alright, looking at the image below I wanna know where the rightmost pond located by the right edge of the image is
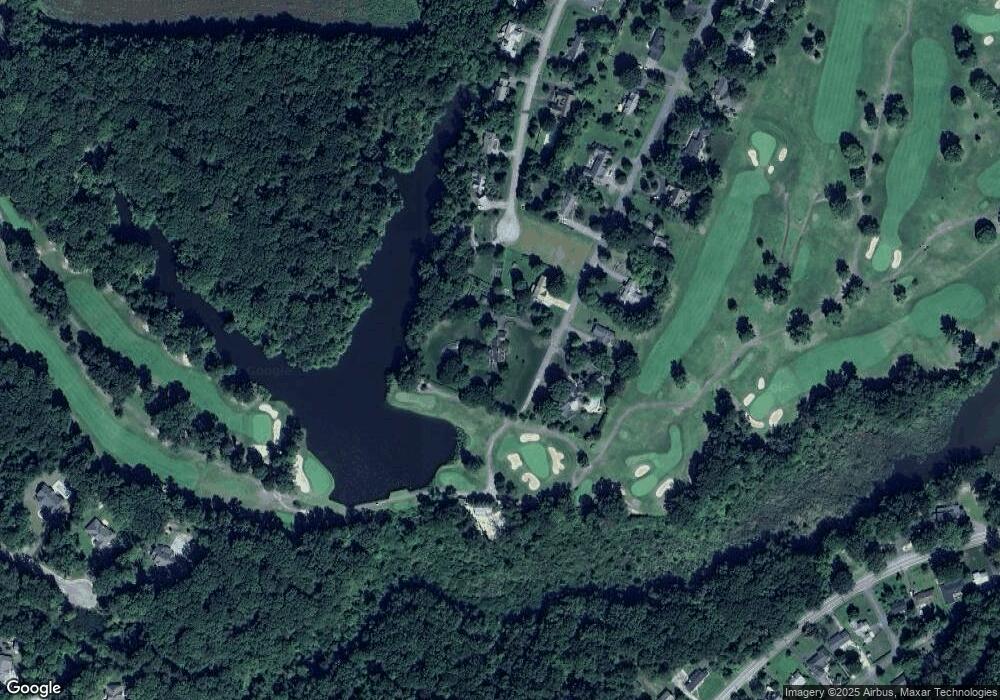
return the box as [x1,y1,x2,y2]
[893,370,1000,478]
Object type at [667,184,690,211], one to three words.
house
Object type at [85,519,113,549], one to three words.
house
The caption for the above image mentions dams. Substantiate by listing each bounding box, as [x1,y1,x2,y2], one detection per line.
[353,487,435,519]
